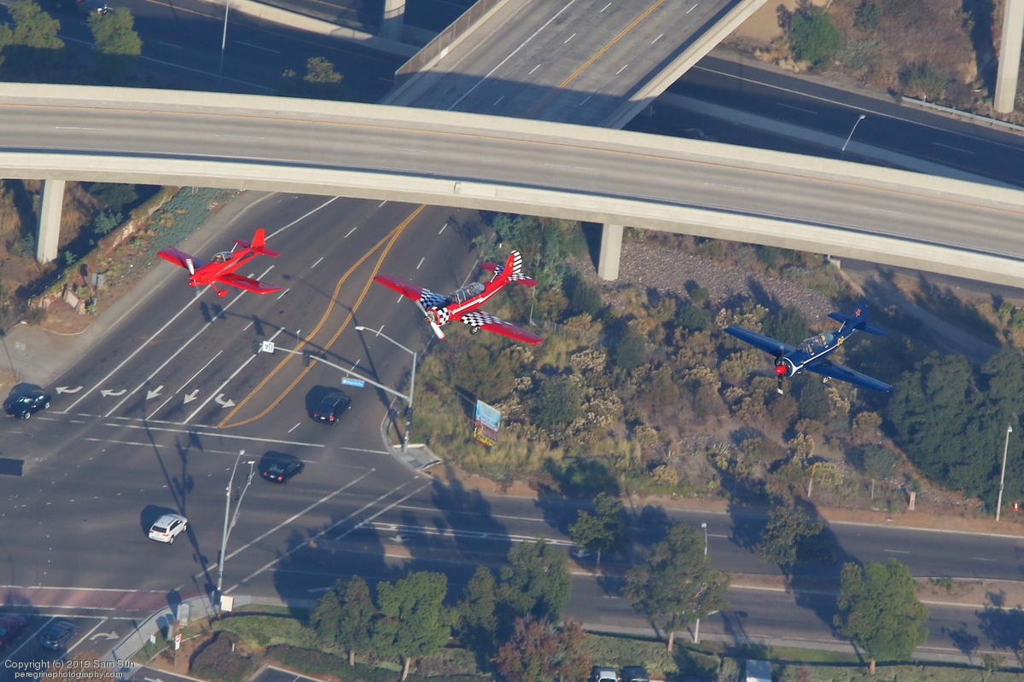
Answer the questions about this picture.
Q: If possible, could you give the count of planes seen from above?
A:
three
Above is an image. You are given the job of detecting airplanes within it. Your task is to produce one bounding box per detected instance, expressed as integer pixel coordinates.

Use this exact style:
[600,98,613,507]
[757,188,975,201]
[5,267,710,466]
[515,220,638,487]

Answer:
[157,227,282,302]
[373,246,548,344]
[724,297,898,393]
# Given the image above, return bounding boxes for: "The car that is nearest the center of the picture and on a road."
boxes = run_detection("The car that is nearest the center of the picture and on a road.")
[312,389,352,418]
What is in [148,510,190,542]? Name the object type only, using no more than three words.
car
